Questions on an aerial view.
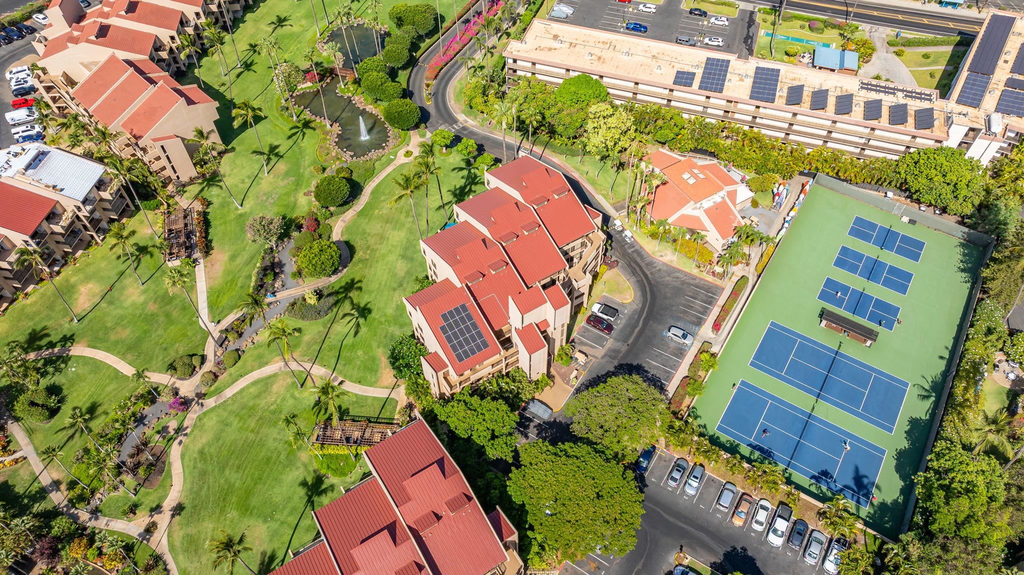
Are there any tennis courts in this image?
Yes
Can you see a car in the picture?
Yes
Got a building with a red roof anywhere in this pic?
Yes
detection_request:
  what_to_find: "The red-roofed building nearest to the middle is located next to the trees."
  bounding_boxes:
[399,150,607,395]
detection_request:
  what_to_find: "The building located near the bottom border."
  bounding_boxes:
[256,413,524,575]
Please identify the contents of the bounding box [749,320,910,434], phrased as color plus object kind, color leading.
blue tennis court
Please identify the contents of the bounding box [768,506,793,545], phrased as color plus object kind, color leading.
white truck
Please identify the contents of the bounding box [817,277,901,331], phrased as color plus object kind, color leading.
blue sports court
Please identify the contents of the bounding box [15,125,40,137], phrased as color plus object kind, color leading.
white vehicle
